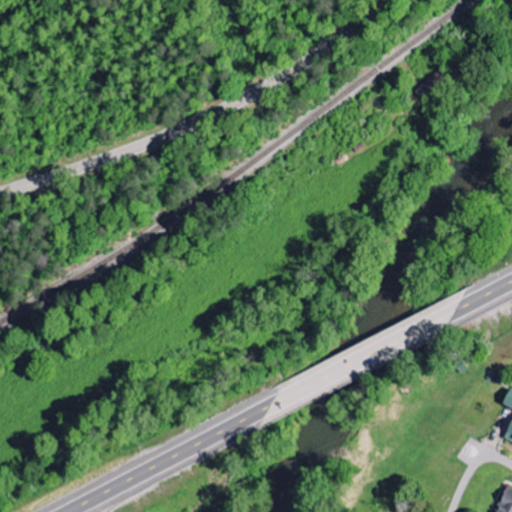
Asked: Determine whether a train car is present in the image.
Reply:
No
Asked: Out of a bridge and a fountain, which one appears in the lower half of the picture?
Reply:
bridge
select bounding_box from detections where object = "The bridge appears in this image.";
[256,283,474,431]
